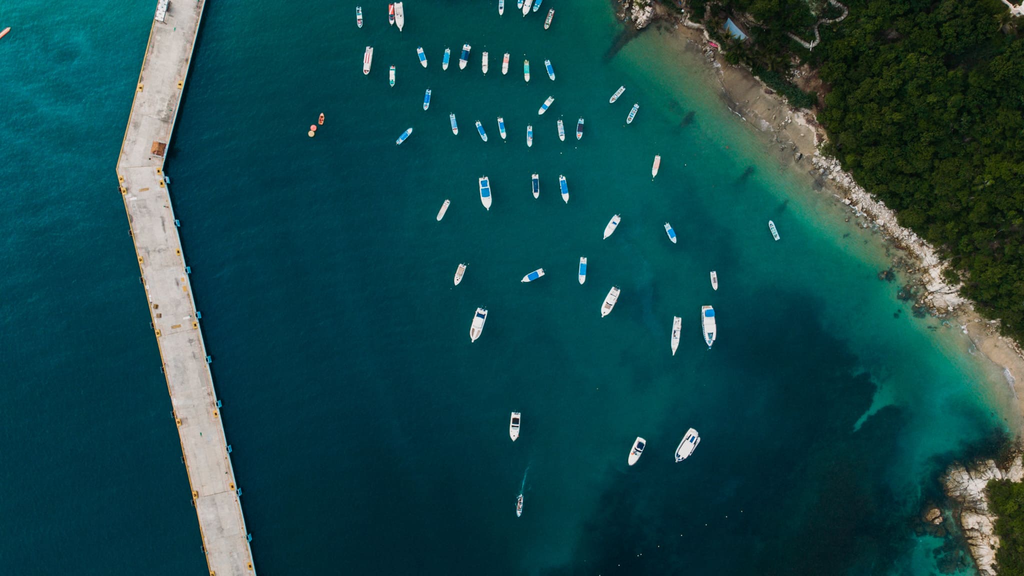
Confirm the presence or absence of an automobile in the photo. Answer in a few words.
No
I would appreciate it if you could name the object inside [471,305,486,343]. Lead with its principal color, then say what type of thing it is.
white boat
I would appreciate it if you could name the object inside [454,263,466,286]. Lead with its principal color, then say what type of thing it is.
white boat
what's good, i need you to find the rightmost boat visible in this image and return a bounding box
[768,220,780,240]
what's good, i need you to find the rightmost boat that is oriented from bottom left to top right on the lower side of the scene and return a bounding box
[675,428,699,464]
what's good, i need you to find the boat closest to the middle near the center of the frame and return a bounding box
[521,268,547,282]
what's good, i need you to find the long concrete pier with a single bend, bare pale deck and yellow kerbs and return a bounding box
[116,0,258,576]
